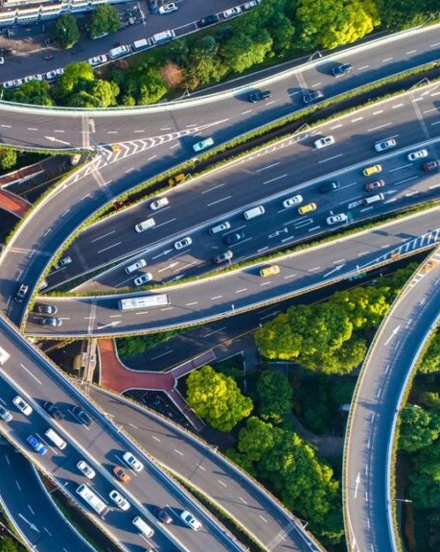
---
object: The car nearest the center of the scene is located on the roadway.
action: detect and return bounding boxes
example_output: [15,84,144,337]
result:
[213,251,232,263]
